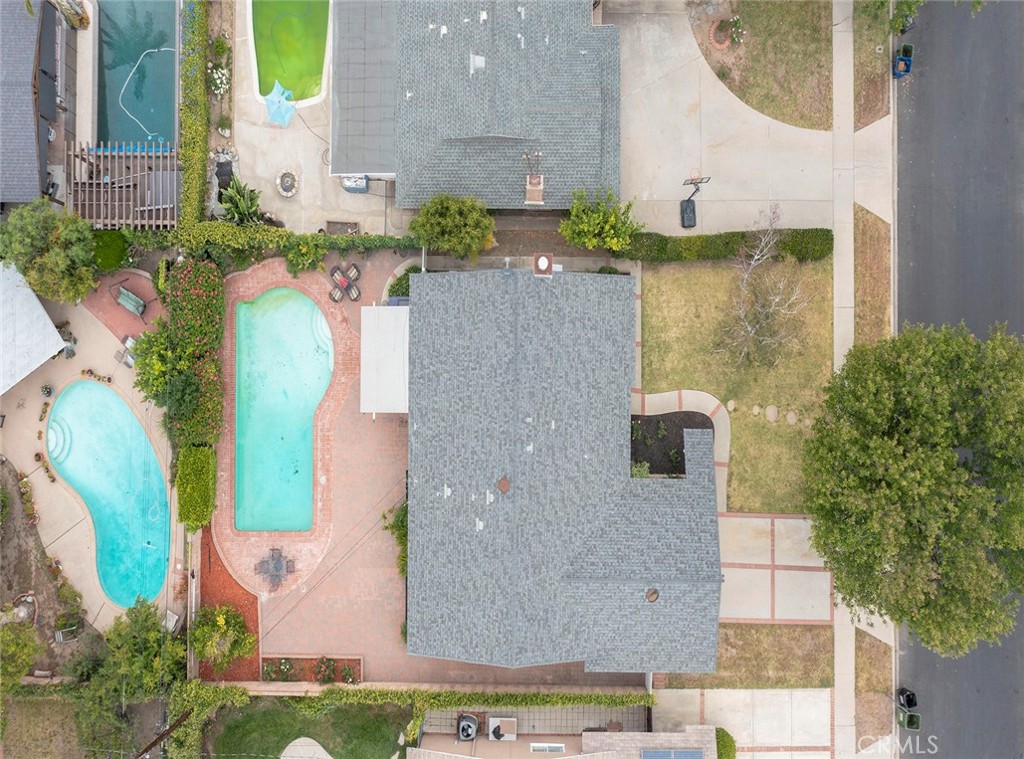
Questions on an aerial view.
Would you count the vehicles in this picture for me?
none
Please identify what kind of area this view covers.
residential area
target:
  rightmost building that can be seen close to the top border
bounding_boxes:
[329,0,620,214]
